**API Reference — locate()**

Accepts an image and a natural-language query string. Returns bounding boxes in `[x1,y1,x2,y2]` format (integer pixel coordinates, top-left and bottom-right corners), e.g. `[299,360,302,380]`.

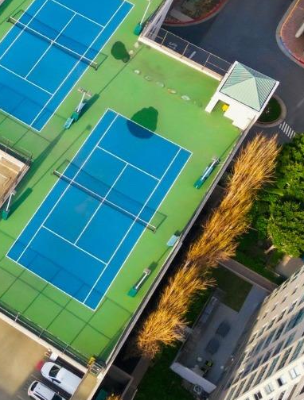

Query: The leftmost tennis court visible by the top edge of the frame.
[0,0,134,132]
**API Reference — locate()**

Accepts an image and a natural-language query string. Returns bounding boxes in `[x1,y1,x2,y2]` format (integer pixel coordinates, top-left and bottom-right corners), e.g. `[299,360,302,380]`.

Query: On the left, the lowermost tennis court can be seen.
[7,107,192,311]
